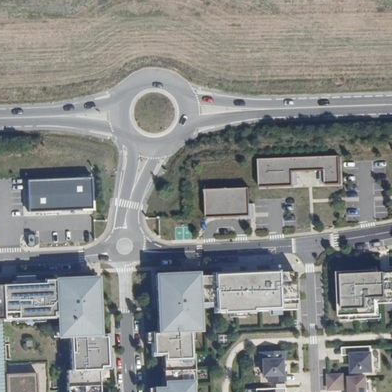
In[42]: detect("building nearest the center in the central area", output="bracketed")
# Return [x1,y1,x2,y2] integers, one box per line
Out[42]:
[202,186,248,218]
